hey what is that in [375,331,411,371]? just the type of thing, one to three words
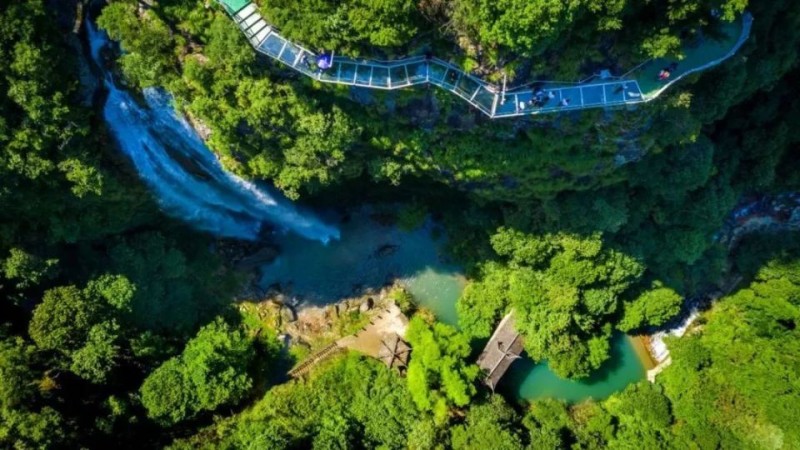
gazebo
